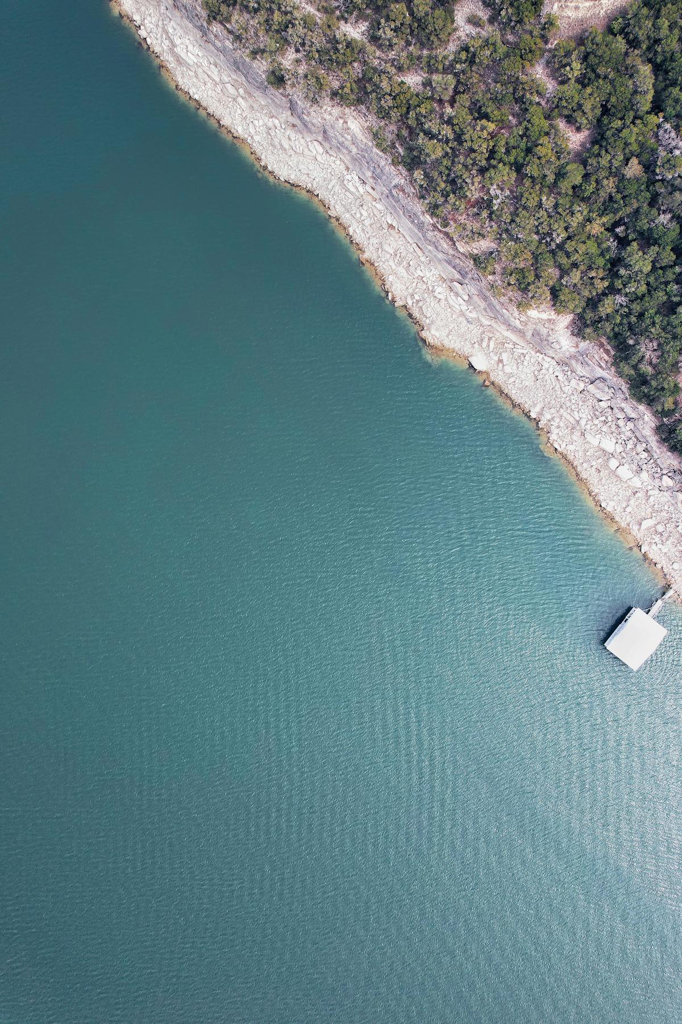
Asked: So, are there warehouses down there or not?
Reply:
No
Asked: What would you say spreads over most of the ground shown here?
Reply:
water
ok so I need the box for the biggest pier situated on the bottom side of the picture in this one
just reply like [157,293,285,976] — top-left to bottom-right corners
[604,607,667,670]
